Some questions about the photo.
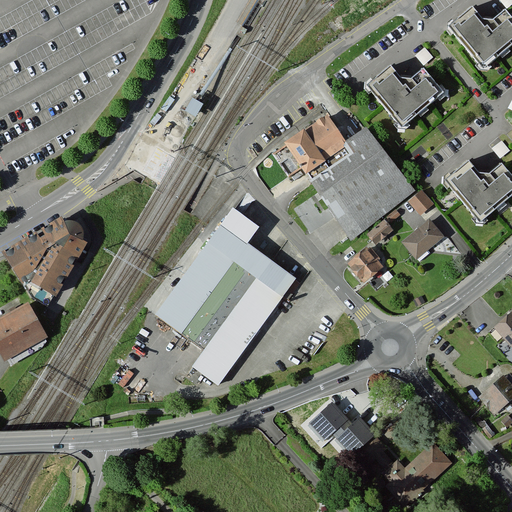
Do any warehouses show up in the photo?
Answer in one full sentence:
Yes, a warehouse appears in the view.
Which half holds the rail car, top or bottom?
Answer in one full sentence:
The rail car sits in the top half of the picture.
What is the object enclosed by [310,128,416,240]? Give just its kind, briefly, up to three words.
building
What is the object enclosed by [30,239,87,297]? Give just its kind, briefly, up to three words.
house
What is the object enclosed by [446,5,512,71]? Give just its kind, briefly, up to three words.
building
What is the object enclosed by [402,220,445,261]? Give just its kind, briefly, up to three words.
house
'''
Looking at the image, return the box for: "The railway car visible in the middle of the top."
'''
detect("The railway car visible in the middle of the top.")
[242,0,263,28]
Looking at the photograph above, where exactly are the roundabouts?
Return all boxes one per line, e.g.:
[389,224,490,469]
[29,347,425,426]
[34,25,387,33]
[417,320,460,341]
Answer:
[362,316,427,377]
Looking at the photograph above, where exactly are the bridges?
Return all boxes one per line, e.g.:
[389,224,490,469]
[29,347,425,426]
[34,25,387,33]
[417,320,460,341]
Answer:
[0,430,88,453]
